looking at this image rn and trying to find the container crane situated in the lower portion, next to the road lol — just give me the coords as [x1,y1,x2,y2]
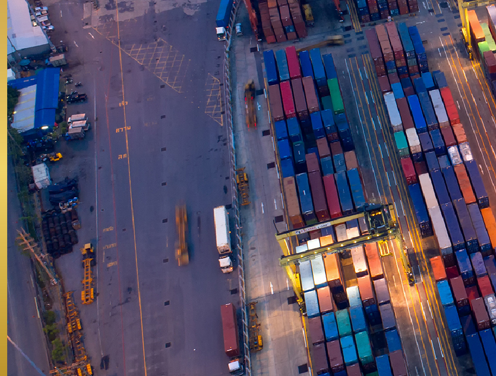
[268,194,415,318]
